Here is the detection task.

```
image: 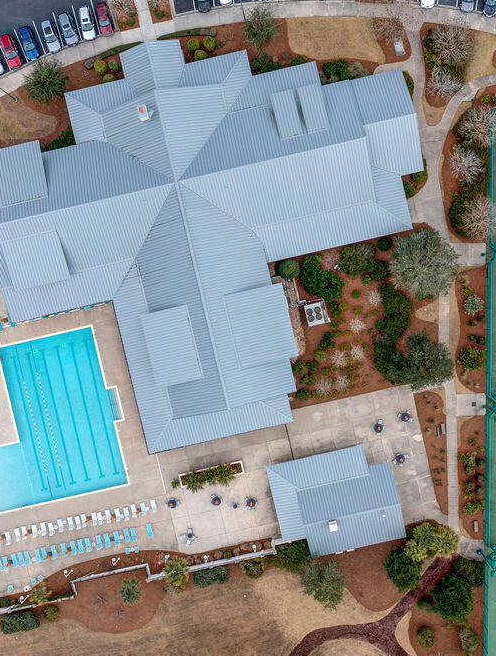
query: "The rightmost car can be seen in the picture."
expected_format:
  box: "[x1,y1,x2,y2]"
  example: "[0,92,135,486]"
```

[481,0,496,19]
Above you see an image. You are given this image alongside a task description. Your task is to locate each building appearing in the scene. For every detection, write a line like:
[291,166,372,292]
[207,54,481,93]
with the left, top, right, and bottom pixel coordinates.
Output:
[266,445,406,557]
[0,40,424,455]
